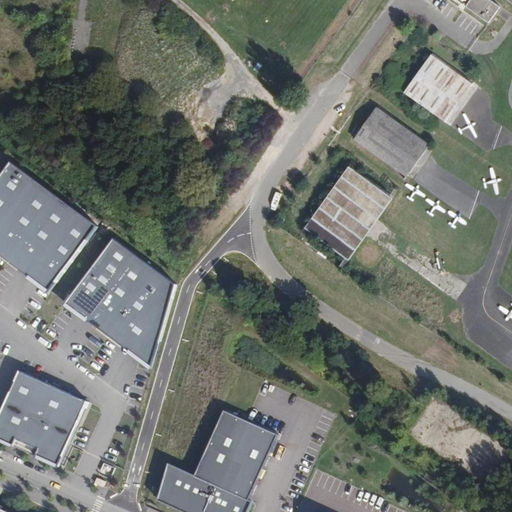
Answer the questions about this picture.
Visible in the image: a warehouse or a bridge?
warehouse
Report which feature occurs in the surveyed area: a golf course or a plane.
plane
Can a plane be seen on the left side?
No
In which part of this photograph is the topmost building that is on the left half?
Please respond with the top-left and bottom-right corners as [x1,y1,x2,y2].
[0,162,98,294]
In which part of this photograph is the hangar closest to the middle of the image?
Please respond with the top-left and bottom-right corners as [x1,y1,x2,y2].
[305,167,392,262]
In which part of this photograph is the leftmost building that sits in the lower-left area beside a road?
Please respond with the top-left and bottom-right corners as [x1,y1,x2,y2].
[0,372,88,468]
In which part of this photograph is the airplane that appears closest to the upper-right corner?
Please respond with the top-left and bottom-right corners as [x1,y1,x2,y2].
[458,113,478,137]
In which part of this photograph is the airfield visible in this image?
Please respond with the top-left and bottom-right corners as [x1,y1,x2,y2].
[369,84,512,370]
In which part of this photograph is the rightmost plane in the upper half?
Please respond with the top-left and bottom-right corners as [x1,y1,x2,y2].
[482,166,502,194]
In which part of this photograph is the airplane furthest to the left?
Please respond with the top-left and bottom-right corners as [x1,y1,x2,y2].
[404,183,426,202]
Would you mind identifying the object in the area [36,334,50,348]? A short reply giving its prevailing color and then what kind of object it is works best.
white vehicle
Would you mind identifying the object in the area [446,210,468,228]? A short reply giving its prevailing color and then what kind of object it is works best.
white airplane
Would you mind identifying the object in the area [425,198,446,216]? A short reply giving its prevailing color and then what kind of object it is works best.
white airplane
